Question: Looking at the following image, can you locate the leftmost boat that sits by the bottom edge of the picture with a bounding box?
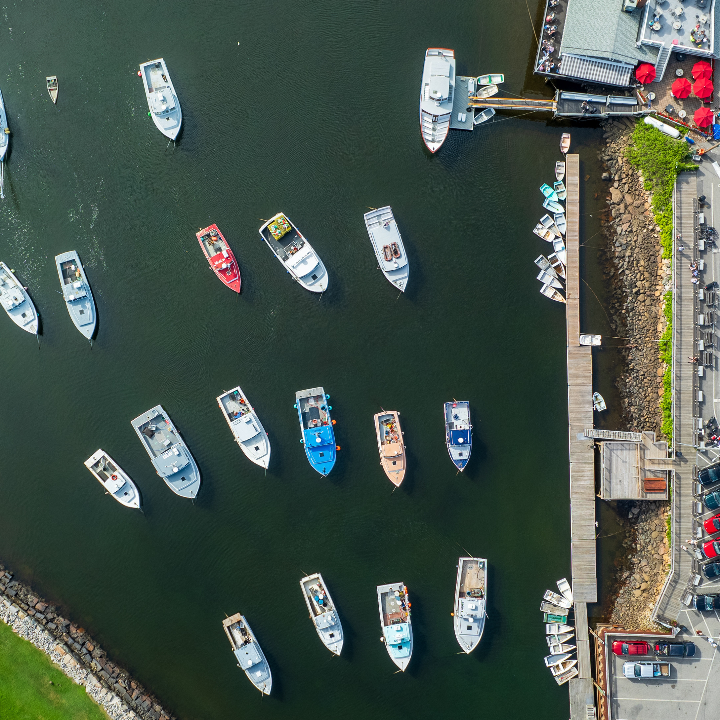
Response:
[222,612,271,698]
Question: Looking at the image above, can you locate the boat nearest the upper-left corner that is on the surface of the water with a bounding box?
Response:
[47,75,59,107]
